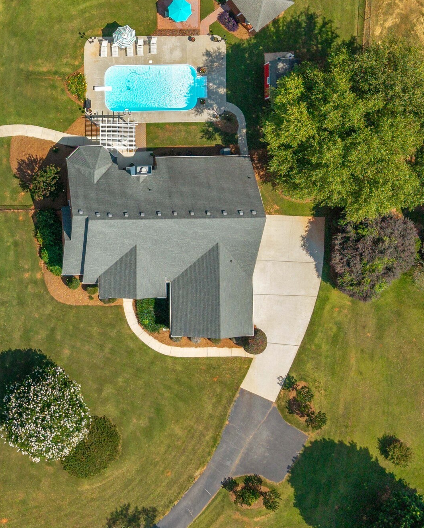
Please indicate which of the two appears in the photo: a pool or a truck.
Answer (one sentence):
Visible in the photo is a pool.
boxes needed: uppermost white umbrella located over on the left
[112,24,136,48]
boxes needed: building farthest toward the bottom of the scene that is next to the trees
[61,145,266,340]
